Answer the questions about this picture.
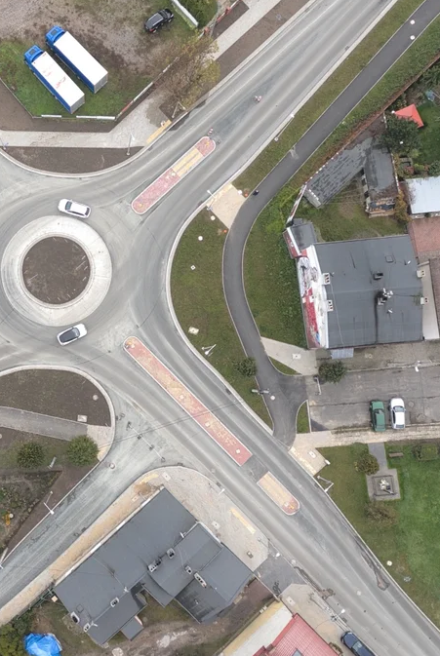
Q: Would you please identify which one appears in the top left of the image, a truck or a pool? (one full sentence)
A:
Looking in the top left of the image, you will find a truck.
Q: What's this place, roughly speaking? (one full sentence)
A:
This looks like a residential area.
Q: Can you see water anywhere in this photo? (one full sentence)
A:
No, there is no water in the image.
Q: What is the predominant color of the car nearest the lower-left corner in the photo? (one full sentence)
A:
The color of the car nearest the lower-left corner is white.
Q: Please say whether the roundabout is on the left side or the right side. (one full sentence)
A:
You can find the roundabout on the left side of the picture.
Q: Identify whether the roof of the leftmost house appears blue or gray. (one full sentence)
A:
The color of the roof of the leftmost house is gray.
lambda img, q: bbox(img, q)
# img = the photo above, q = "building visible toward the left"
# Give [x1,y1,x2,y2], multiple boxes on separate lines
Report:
[52,486,253,646]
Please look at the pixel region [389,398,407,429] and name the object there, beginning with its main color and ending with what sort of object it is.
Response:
white car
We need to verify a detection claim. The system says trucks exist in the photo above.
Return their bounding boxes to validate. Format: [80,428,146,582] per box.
[41,23,107,92]
[20,41,84,112]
